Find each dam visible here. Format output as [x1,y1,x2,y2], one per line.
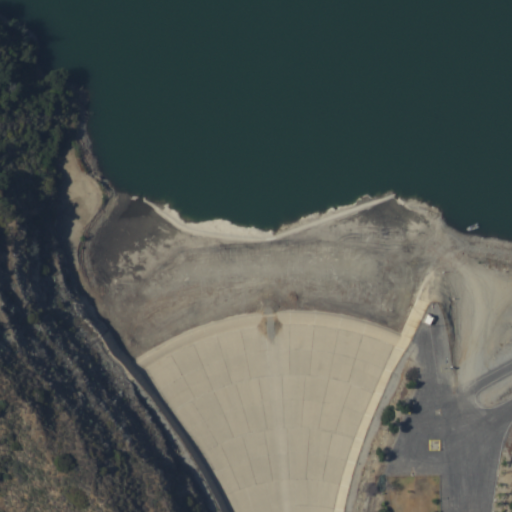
[60,282,430,512]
